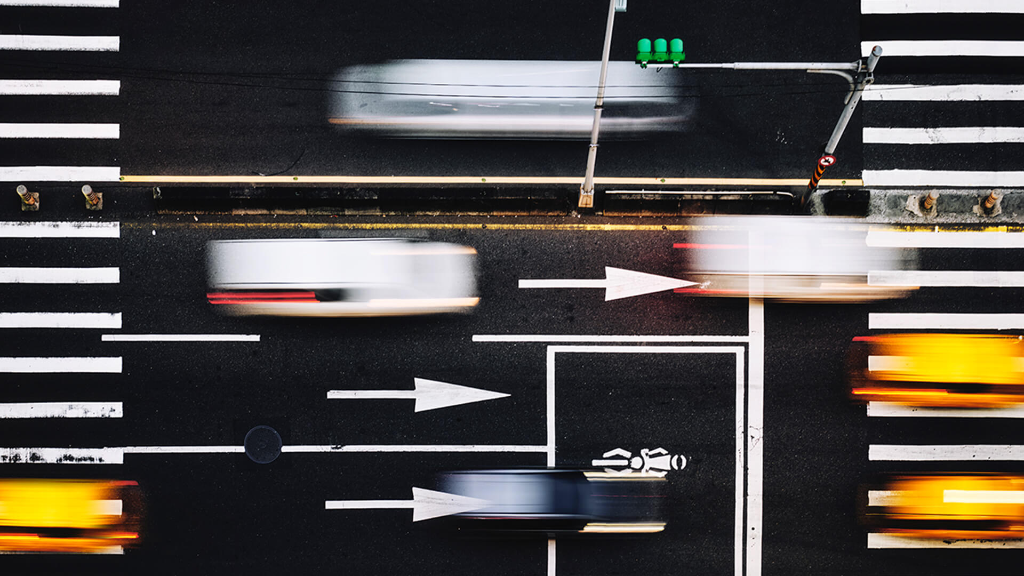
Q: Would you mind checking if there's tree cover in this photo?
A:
No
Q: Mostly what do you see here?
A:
paved ground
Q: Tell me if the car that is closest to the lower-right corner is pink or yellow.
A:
yellow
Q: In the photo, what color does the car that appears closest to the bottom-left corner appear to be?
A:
yellow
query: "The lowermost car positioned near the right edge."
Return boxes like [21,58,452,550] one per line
[908,467,1024,538]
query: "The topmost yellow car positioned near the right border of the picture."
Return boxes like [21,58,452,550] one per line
[901,325,1024,408]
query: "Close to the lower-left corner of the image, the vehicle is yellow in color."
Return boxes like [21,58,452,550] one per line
[0,481,103,552]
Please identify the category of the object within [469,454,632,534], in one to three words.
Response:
car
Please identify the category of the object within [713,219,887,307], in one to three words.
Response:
vehicle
